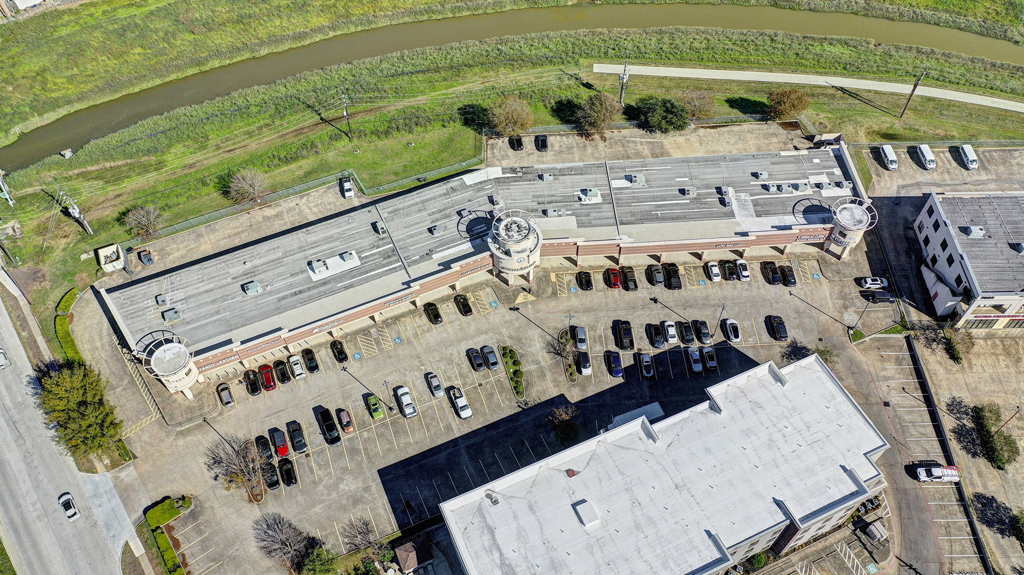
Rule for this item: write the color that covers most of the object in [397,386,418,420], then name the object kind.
white truck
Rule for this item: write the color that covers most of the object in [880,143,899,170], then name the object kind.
white vehicle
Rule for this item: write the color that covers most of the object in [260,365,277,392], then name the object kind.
red car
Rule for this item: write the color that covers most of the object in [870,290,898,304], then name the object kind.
black car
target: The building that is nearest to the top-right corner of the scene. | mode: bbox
[911,187,1024,327]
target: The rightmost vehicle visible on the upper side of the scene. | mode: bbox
[959,143,979,170]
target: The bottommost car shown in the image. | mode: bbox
[58,492,81,523]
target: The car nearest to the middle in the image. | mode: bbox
[455,293,474,318]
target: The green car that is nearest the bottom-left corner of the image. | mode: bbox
[367,395,384,421]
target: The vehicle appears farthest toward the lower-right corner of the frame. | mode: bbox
[916,466,963,484]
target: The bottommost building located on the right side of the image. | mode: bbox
[439,354,890,575]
